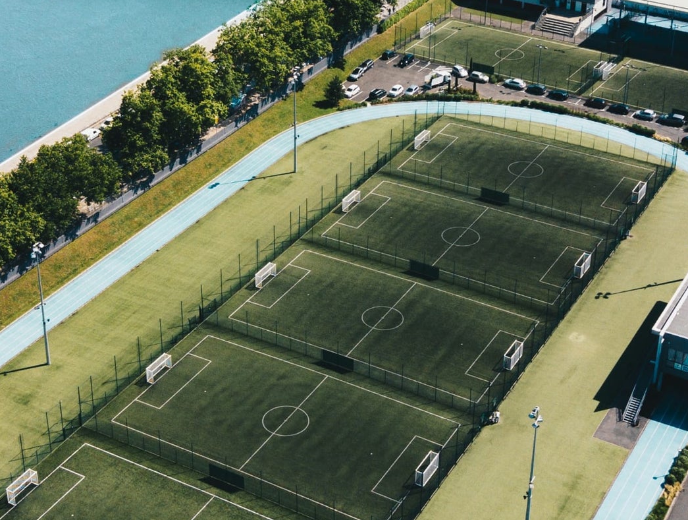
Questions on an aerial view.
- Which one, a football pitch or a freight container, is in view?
football pitch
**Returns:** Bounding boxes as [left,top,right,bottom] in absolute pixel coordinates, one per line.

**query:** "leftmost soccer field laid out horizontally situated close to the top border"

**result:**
[395,17,628,94]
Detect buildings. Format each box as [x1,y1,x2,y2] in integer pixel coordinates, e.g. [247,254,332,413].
[649,270,688,397]
[620,0,688,53]
[505,0,622,30]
